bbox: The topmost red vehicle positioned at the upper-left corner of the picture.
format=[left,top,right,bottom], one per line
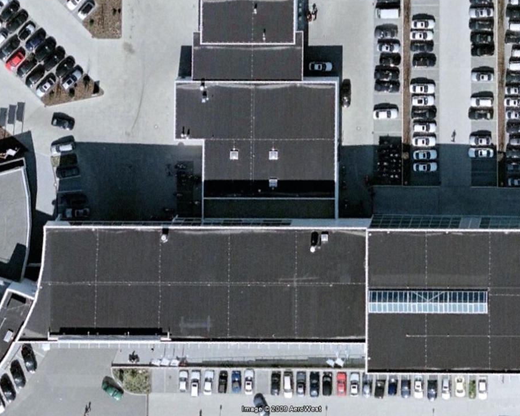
[5,51,25,70]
